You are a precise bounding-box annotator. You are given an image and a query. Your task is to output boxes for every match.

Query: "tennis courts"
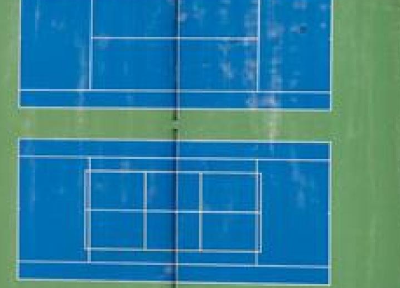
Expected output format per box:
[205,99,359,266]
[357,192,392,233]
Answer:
[17,138,331,286]
[19,0,334,111]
